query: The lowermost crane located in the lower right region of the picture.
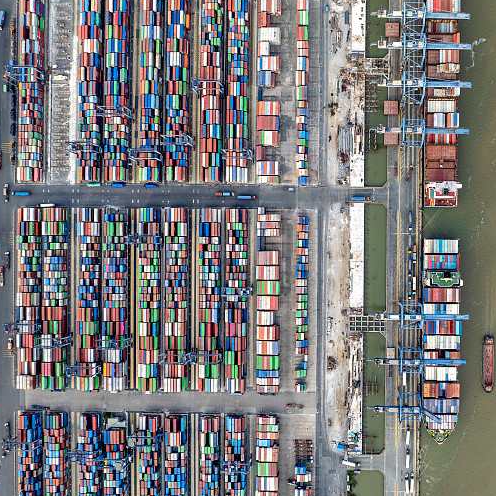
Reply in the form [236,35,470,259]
[369,381,437,426]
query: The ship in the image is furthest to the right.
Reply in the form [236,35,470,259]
[481,334,494,392]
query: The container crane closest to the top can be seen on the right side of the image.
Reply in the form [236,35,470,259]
[373,2,471,42]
